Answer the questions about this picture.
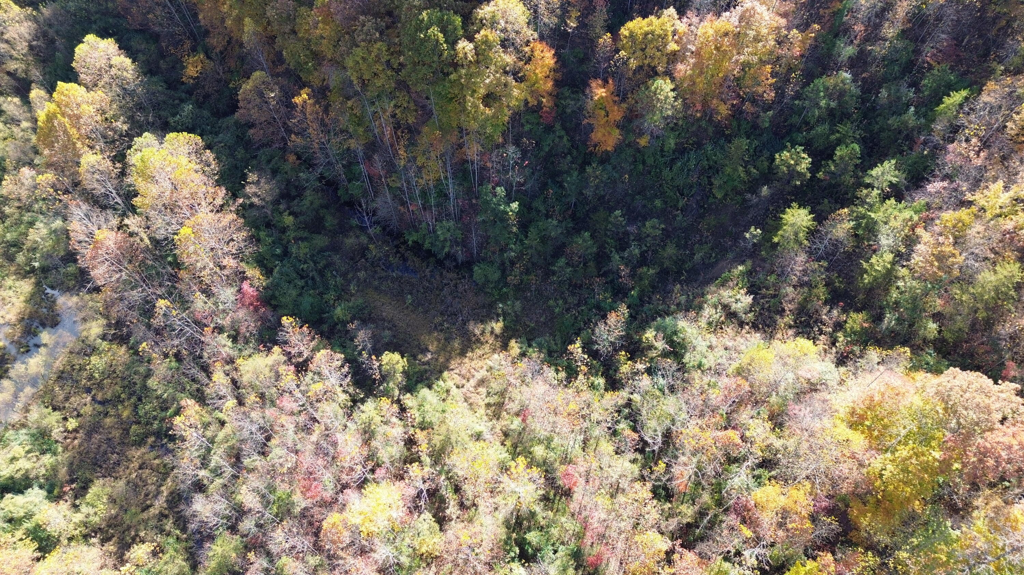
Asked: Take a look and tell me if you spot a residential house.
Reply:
No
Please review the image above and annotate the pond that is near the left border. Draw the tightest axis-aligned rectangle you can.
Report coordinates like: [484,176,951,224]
[0,284,87,438]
